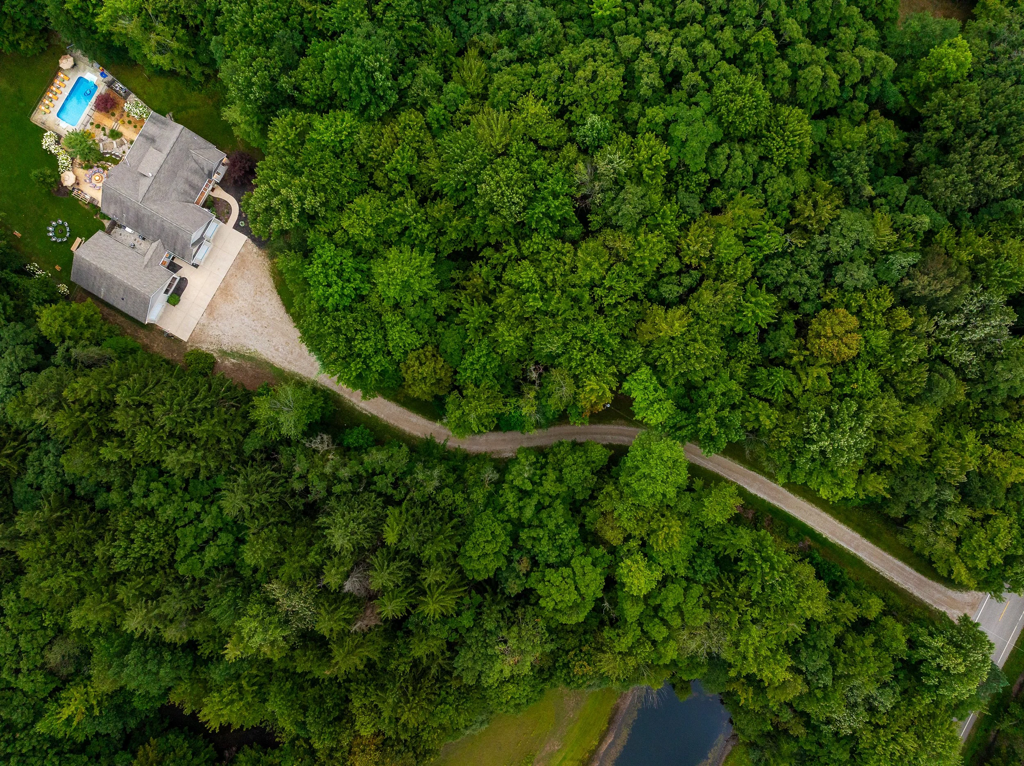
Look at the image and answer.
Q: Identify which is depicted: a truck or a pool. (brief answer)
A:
pool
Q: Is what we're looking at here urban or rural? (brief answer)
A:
rural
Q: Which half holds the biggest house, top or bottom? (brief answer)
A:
top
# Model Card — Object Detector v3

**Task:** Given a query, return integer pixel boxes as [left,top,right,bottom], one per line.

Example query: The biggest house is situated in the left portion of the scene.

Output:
[71,110,231,324]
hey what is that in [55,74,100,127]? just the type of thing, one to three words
swimming pool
